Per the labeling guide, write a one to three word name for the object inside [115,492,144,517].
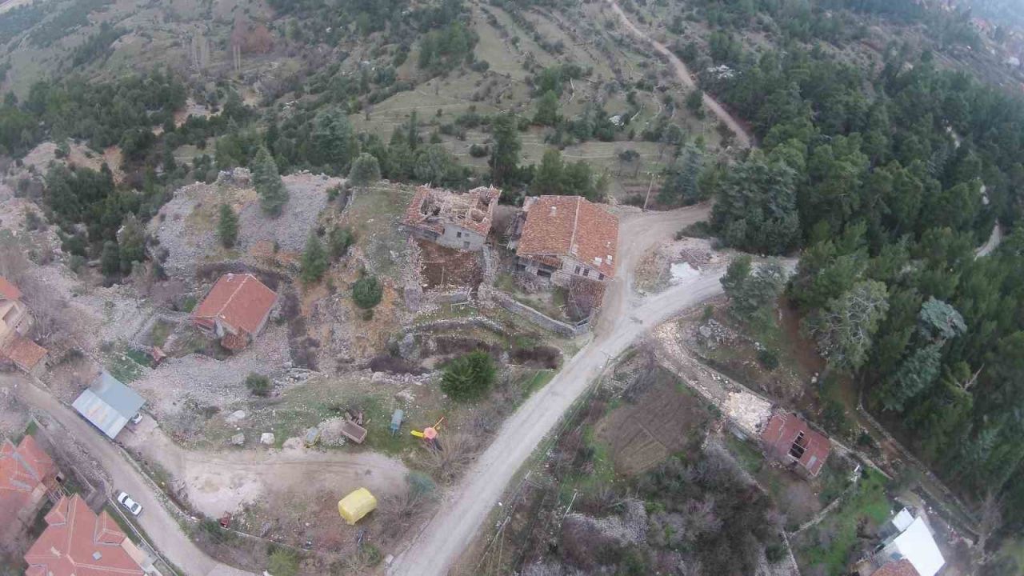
car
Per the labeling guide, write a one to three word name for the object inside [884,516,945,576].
building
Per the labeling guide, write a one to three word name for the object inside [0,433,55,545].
house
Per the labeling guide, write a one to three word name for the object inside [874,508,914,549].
shed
